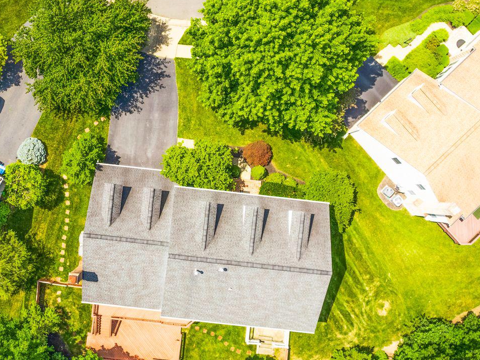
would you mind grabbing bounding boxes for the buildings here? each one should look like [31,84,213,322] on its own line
[67,162,334,334]
[347,36,480,230]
